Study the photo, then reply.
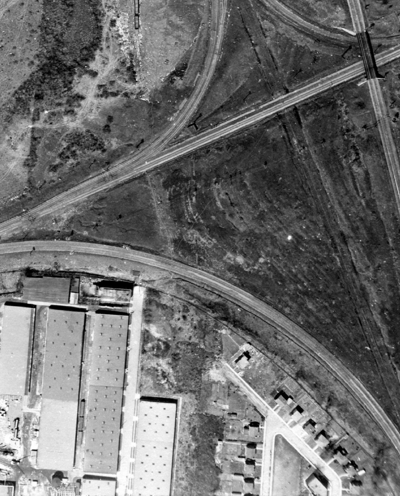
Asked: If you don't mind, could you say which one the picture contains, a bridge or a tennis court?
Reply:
bridge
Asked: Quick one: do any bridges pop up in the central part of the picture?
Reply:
No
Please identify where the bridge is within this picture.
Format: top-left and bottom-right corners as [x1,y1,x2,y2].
[331,26,386,86]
